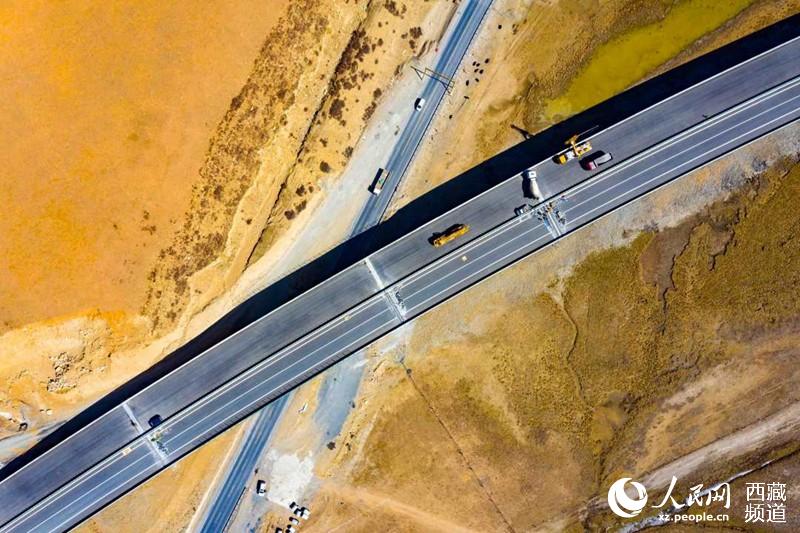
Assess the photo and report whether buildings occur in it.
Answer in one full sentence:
No, there isn't any building down there.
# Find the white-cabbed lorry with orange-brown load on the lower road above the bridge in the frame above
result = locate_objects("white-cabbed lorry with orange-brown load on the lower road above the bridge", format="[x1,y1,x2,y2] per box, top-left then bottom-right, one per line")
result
[373,168,390,194]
